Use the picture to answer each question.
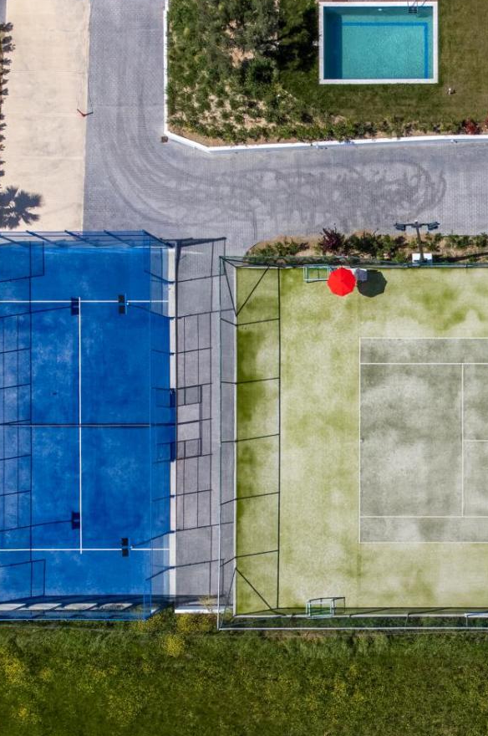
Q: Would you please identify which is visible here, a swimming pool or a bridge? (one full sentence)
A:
Visible in the photo is a swimming pool.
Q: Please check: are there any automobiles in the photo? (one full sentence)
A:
No, no automobile can be seen from above.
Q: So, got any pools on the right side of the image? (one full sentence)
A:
Yes, there is a pool on the right side of the image.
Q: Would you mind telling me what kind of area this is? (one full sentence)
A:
It's a sports ground.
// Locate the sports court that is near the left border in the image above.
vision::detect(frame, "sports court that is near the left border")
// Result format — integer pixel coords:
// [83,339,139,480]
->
[0,240,176,611]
